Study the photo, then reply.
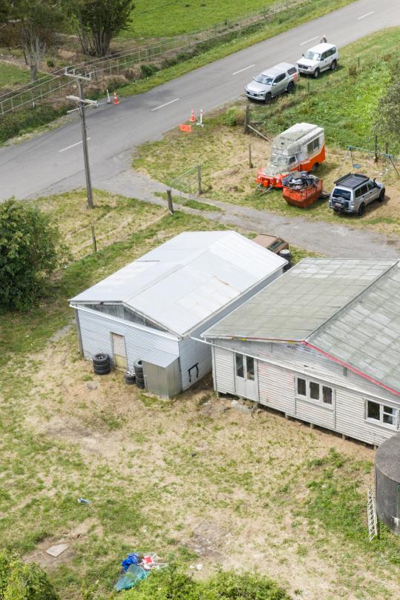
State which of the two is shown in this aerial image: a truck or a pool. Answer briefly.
truck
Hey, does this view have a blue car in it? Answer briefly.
No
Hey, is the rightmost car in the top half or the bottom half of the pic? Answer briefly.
top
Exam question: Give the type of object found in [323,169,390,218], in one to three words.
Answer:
car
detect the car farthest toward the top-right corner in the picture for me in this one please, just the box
[294,42,340,78]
